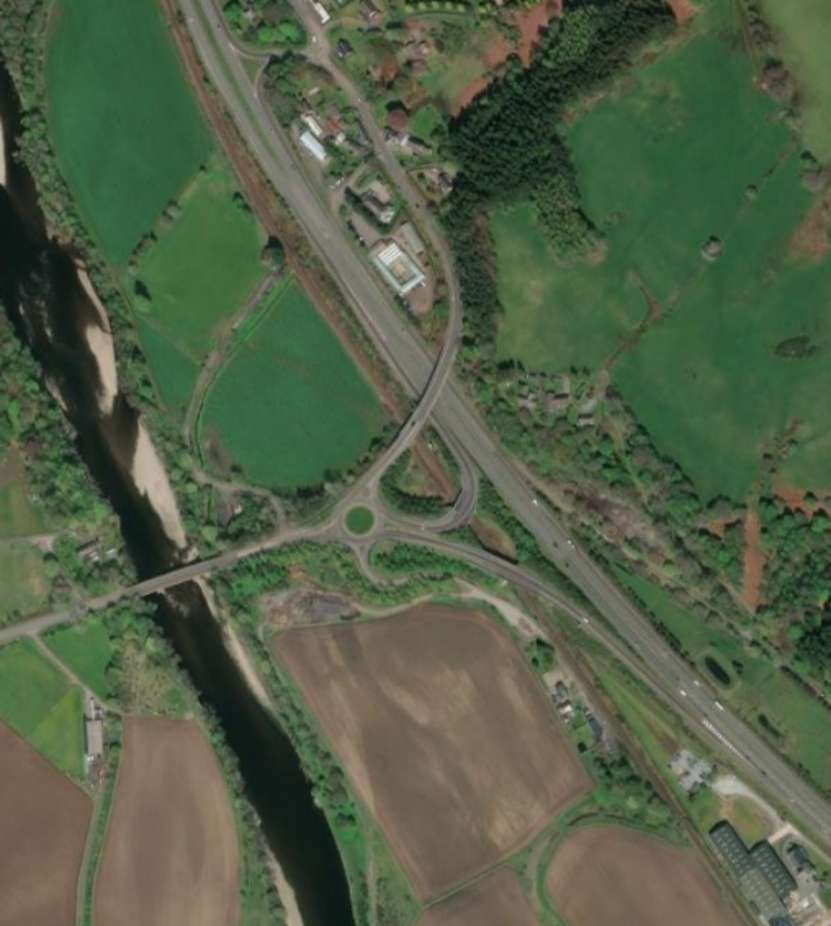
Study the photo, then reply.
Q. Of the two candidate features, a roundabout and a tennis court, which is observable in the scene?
roundabout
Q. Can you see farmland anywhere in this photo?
Yes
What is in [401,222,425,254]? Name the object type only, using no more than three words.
shed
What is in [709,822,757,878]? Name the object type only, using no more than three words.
building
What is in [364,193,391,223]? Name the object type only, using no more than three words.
house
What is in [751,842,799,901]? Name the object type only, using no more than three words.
building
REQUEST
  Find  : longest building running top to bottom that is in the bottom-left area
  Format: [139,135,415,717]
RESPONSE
[86,720,102,756]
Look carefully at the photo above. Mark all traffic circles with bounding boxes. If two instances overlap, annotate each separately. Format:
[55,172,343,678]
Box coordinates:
[334,485,406,556]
